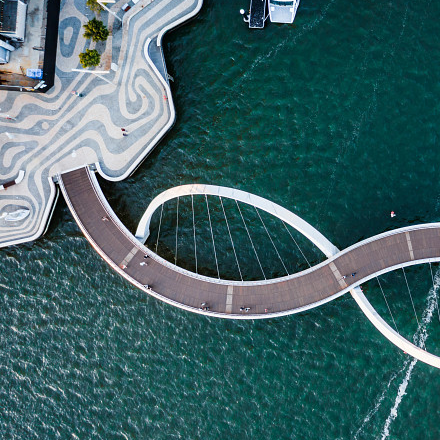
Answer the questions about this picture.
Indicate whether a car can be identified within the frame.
No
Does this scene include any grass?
No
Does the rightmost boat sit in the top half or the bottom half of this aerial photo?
top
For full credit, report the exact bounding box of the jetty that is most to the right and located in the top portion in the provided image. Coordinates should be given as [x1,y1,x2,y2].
[250,0,266,29]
